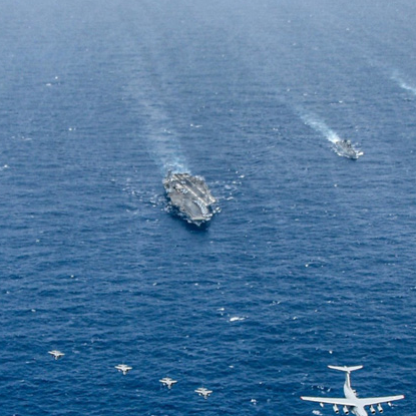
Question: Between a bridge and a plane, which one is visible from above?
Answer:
plane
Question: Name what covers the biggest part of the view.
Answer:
water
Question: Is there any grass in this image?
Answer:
No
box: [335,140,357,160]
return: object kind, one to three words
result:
ship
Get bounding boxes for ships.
[166,171,216,225]
[335,140,357,160]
